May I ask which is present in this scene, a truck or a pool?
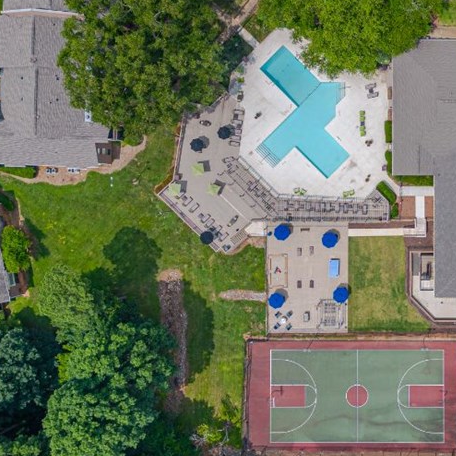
pool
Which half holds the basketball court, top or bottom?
bottom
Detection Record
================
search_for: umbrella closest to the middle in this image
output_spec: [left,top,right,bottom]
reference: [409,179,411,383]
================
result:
[200,231,214,244]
